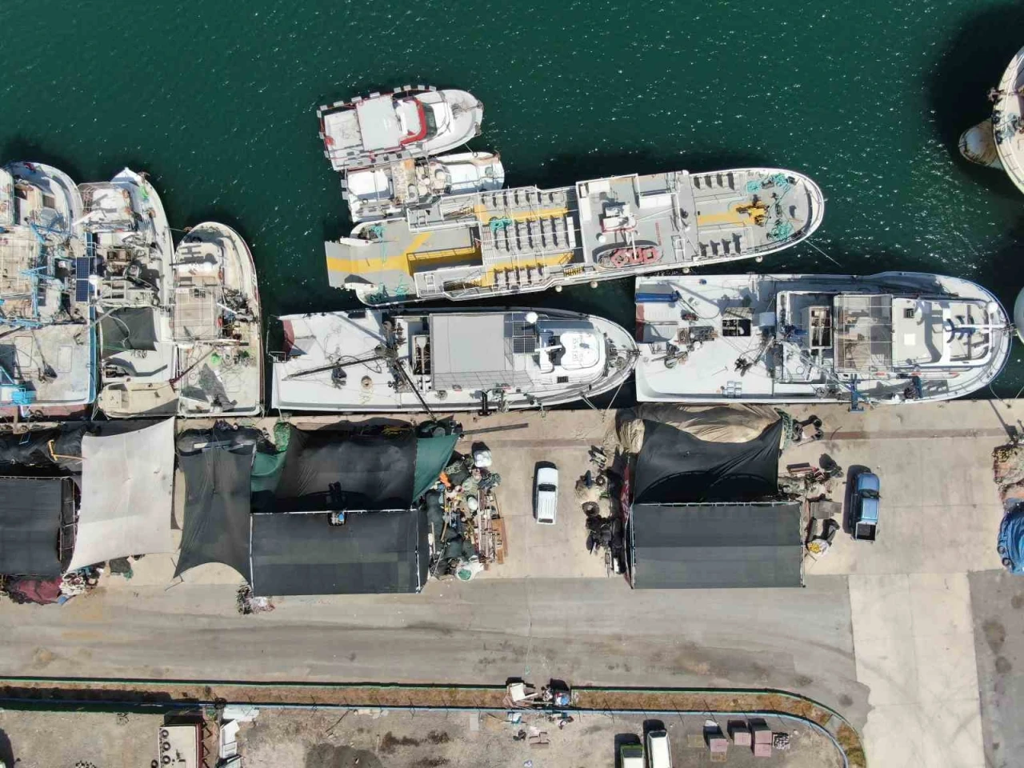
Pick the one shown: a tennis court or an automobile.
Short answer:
automobile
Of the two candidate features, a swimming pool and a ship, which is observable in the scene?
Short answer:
ship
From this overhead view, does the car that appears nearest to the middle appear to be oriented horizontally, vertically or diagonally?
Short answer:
vertically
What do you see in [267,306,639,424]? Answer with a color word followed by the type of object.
white boat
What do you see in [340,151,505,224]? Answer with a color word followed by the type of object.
white boat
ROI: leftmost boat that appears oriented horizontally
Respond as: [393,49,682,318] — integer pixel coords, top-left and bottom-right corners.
[99,380,179,418]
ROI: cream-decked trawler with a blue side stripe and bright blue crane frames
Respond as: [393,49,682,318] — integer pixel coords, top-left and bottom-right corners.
[0,160,115,420]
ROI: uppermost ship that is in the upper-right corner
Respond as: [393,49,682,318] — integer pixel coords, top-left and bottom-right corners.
[958,47,1024,196]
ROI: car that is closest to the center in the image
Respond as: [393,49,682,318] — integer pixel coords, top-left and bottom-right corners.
[532,460,561,524]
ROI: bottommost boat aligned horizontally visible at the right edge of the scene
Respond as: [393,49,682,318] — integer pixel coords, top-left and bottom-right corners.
[632,272,1014,411]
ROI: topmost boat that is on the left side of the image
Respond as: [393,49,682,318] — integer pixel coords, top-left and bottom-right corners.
[317,85,484,175]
